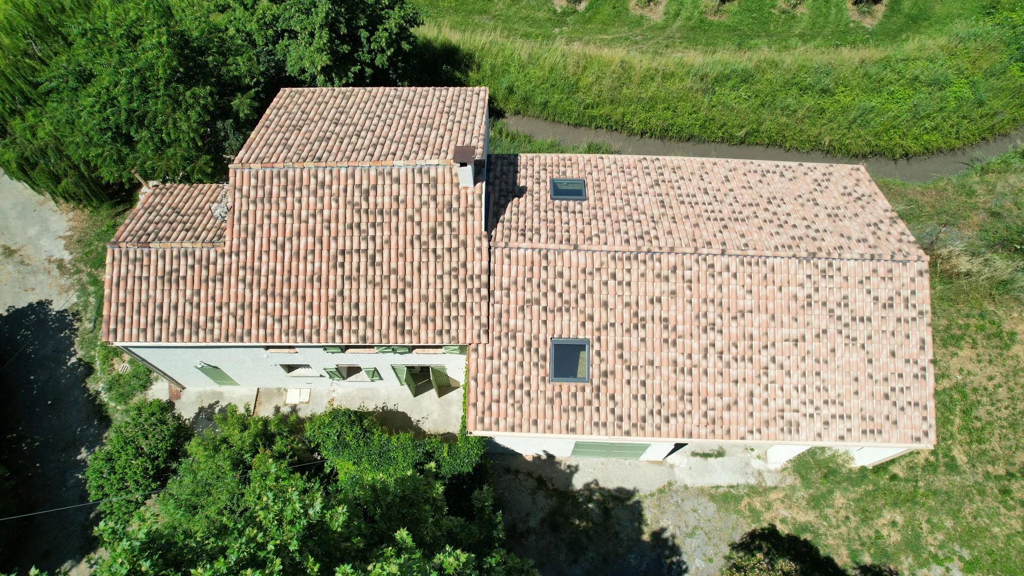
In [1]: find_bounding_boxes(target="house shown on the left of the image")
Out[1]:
[103,86,494,399]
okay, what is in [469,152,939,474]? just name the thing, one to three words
barn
